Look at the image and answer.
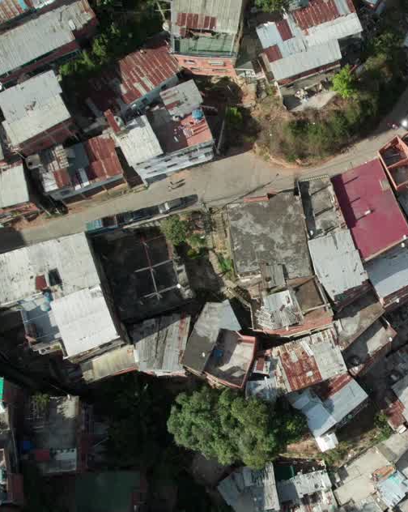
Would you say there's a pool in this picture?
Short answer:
No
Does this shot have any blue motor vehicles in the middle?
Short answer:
No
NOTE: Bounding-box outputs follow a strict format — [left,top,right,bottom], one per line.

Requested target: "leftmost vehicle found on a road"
[86,208,131,232]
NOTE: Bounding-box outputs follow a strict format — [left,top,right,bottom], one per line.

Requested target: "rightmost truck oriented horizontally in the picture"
[156,190,202,216]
